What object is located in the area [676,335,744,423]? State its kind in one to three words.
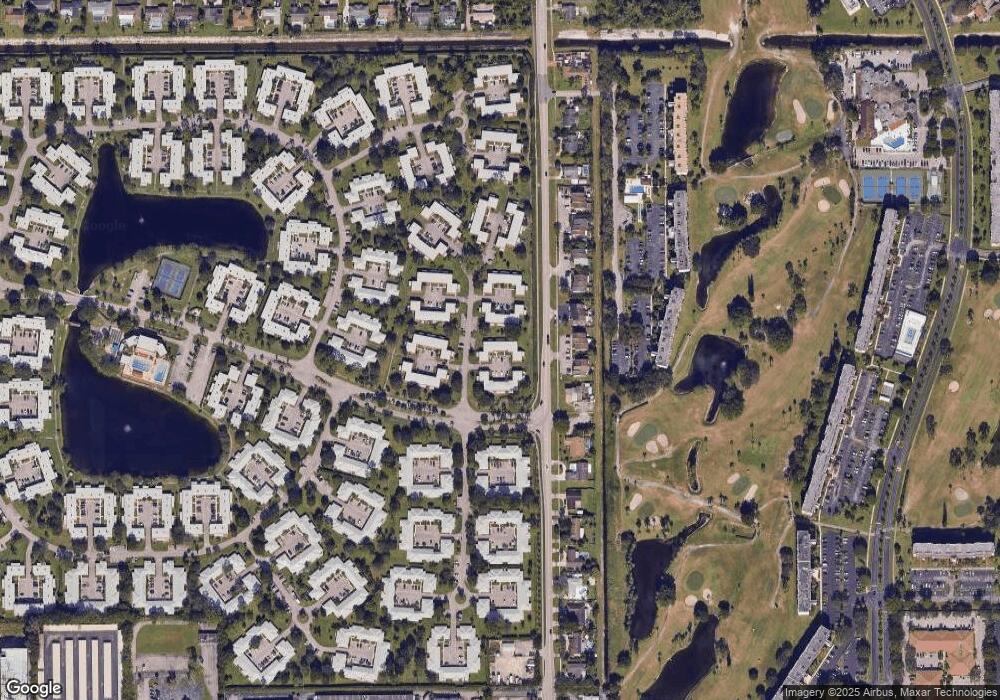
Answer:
pond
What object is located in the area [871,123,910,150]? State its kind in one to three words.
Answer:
swimming pool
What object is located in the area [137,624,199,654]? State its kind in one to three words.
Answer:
sports field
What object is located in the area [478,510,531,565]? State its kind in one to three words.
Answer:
building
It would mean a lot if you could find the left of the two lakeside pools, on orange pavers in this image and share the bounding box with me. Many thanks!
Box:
[120,353,154,382]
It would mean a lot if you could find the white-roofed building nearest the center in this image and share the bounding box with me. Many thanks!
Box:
[476,341,526,363]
